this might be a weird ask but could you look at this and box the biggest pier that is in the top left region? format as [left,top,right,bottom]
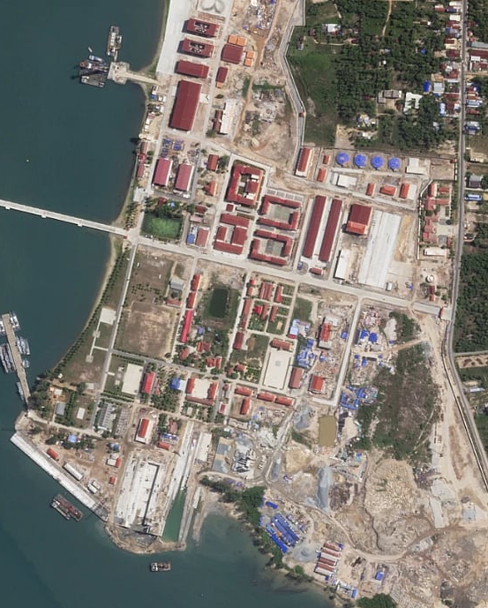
[108,61,158,84]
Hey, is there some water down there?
Yes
